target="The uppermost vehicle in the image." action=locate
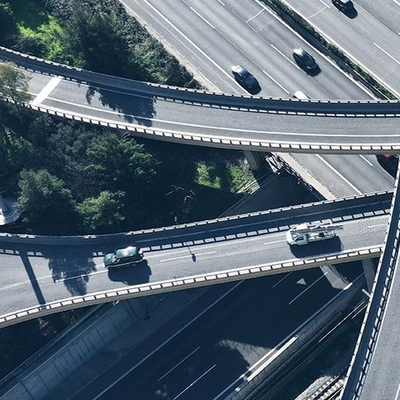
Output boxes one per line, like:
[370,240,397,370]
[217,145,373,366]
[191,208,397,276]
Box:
[329,0,356,13]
